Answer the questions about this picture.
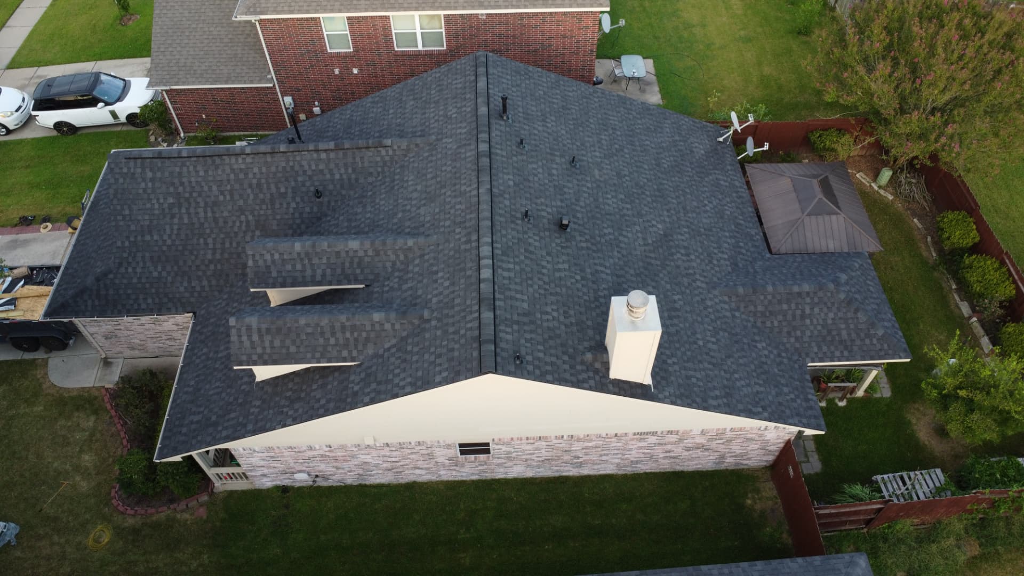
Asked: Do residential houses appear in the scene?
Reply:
Yes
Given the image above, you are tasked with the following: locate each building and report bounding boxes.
[40,52,915,491]
[582,551,869,576]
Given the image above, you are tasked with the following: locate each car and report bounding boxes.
[36,68,159,127]
[0,76,38,125]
